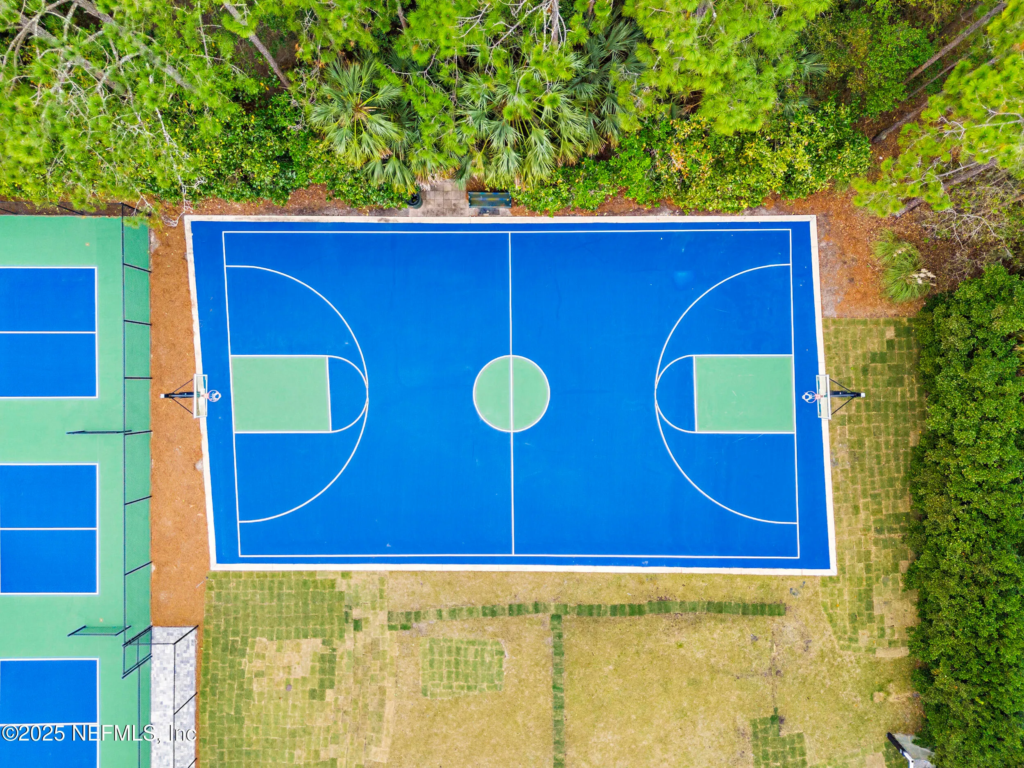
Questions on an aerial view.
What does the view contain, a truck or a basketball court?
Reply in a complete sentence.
I can see a basketball court in this picture.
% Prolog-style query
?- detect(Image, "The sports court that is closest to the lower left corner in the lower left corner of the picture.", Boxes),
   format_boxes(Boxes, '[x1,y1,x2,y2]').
[0,658,99,768]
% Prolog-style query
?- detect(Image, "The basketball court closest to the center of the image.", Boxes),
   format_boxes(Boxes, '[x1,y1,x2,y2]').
[184,215,837,576]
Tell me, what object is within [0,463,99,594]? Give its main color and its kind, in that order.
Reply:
blue sports court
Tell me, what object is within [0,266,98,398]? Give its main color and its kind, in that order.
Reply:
blue sports court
